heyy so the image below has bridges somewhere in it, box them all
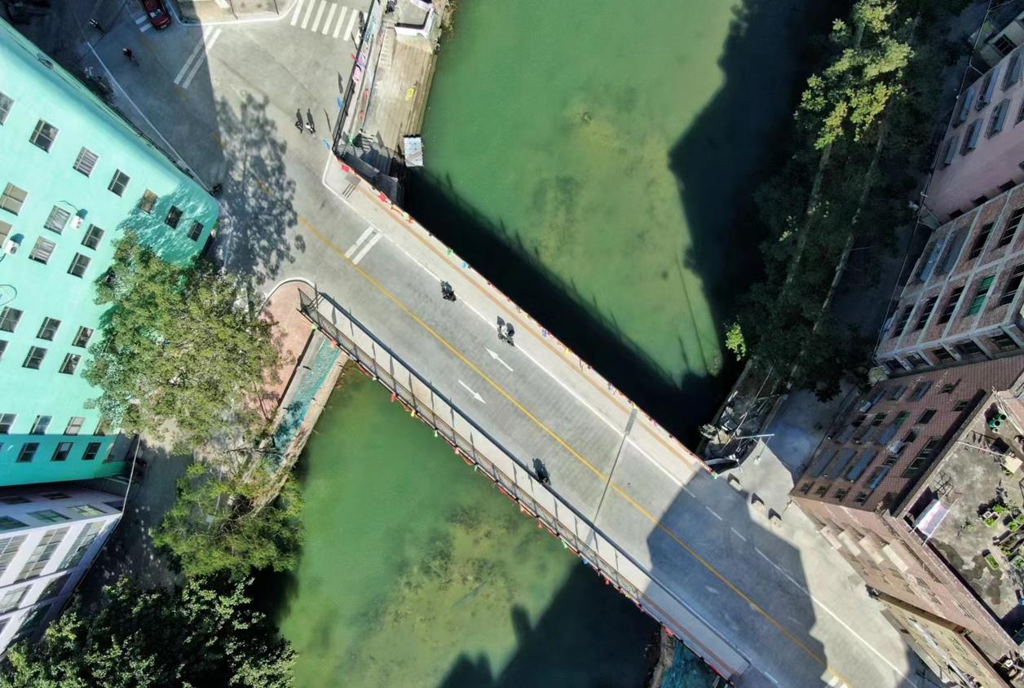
[293,164,818,688]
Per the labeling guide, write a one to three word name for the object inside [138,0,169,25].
car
